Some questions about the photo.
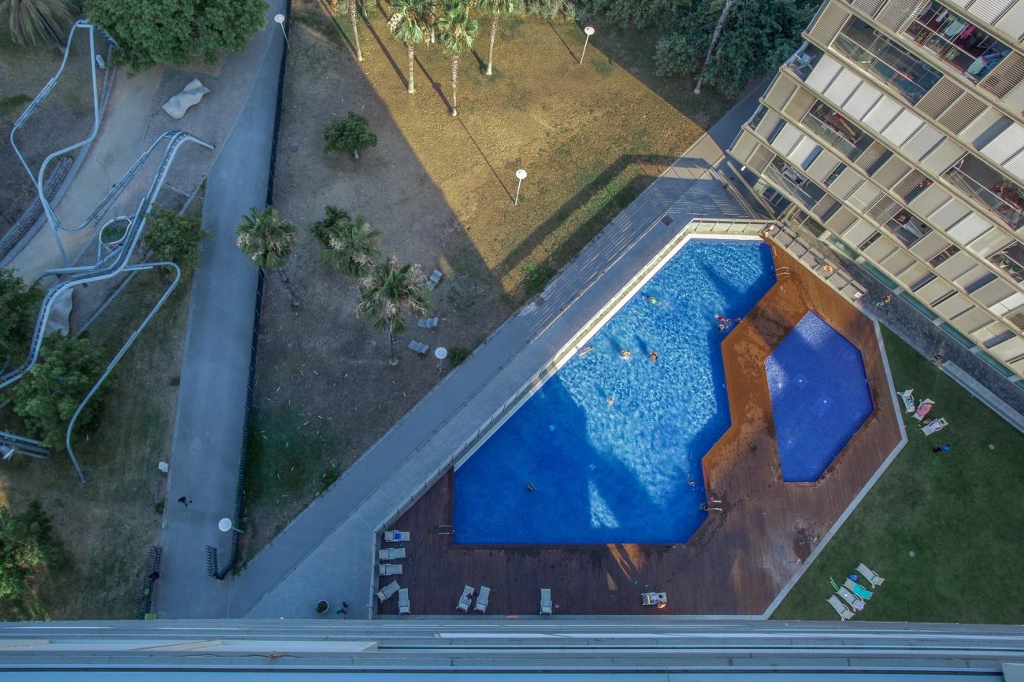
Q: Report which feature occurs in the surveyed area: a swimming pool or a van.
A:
swimming pool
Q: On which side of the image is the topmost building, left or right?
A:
right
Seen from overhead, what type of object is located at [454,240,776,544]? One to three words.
swimming pool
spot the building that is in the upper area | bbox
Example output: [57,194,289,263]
[725,0,1024,398]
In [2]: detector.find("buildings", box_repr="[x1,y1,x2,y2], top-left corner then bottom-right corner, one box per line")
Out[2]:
[0,619,1024,682]
[725,0,1024,398]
